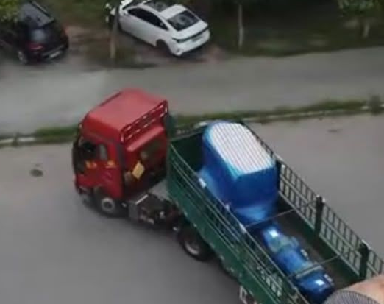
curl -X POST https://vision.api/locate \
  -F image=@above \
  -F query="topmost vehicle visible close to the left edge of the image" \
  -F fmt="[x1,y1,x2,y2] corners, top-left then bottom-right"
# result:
[0,0,69,63]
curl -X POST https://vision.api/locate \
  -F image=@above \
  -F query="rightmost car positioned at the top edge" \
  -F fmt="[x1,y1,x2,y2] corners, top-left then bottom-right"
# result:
[108,0,208,56]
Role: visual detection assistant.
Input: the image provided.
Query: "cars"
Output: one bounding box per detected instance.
[0,0,69,63]
[108,0,208,56]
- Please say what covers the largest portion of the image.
paved ground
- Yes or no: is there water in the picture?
No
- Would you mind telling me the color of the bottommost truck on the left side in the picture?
red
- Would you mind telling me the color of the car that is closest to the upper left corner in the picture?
black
